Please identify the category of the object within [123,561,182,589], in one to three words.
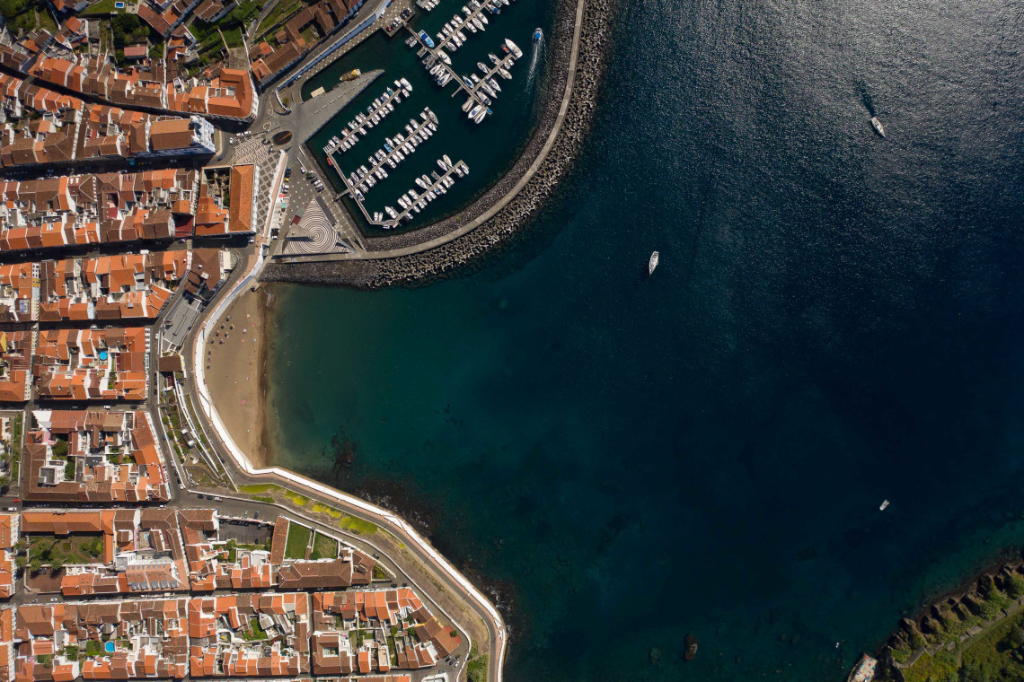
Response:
building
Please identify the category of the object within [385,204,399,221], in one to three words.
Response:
boat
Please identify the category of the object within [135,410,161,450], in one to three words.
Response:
house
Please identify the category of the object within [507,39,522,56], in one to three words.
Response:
boat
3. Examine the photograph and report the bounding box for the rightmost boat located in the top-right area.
[870,116,887,135]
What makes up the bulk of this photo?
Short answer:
water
